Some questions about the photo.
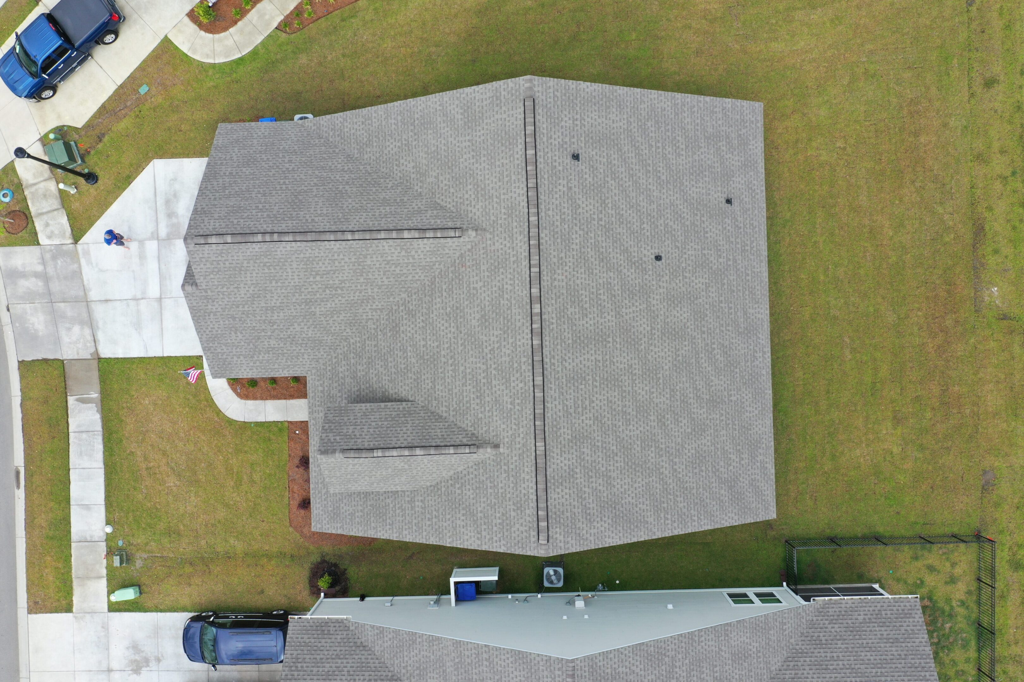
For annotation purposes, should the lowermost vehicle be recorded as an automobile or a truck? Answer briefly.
automobile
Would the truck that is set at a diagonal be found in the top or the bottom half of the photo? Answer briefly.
top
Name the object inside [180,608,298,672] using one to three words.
car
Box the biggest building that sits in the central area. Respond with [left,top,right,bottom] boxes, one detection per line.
[182,74,776,556]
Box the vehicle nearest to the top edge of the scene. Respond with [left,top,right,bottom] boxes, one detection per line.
[0,0,130,110]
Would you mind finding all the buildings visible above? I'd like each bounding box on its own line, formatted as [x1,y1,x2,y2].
[284,577,934,682]
[182,74,776,556]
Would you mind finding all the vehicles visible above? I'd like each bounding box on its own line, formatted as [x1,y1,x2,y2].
[180,608,298,672]
[0,0,130,110]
